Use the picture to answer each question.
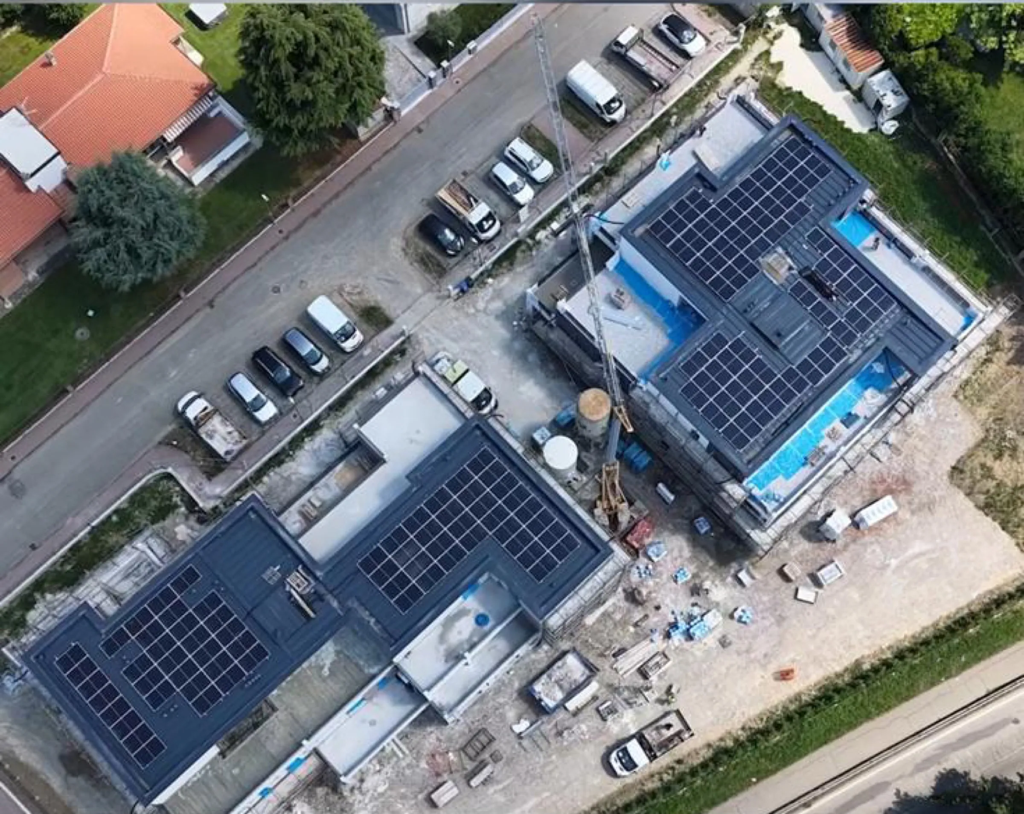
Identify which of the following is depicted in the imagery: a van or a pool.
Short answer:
van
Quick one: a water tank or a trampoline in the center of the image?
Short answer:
water tank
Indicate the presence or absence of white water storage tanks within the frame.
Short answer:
Yes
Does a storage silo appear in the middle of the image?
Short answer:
Yes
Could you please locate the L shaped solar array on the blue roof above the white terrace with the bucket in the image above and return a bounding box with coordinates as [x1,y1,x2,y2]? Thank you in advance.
[359,447,578,613]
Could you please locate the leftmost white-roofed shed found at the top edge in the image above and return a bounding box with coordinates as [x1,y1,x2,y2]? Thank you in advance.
[189,0,235,35]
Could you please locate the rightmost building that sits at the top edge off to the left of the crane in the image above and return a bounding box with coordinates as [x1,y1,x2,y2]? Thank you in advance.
[348,0,416,61]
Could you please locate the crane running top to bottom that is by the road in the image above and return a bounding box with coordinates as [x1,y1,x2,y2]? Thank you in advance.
[531,12,640,534]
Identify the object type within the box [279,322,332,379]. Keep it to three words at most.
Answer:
car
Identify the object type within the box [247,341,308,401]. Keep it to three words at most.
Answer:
car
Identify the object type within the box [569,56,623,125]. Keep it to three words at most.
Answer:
van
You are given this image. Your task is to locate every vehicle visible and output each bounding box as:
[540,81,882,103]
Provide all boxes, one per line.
[488,161,535,209]
[604,18,679,91]
[306,293,364,352]
[504,136,554,186]
[224,370,282,426]
[171,390,249,464]
[417,211,466,261]
[569,56,623,125]
[279,322,332,379]
[604,704,701,786]
[656,10,708,63]
[437,174,502,245]
[247,341,308,401]
[425,342,503,423]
